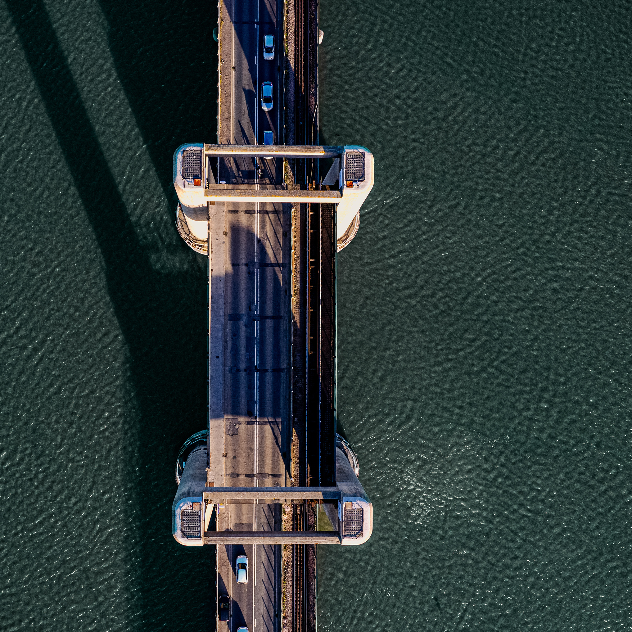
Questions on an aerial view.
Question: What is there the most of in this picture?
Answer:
water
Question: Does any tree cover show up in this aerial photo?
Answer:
No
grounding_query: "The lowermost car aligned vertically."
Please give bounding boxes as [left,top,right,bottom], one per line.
[218,594,230,623]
